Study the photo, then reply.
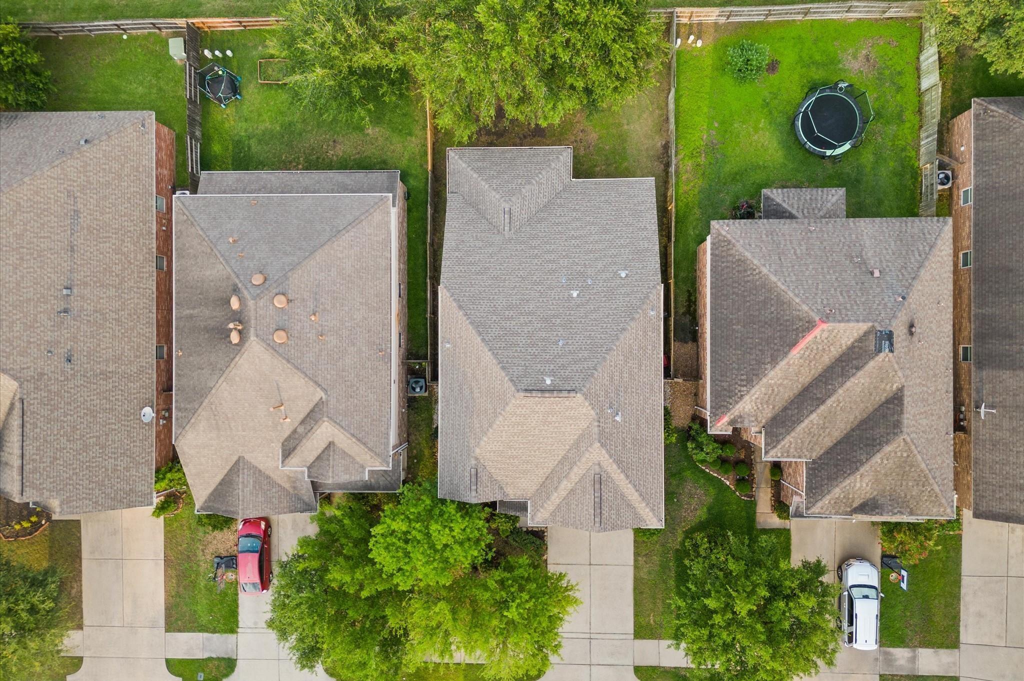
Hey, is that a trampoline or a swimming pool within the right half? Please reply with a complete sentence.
There is a trampoline within the right half.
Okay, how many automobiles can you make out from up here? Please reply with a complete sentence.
In total, there are 2 automobiles in the scene.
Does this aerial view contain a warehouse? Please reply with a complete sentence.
No, there appears to be no warehouse in this shot.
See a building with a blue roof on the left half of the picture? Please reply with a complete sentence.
No, looking on the left half of the picture, there is no building with a blue roof.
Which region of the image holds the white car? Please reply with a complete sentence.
The white car is located in the bottom right region of the scene.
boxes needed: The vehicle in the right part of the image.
[836,557,882,651]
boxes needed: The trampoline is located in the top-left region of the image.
[197,62,241,107]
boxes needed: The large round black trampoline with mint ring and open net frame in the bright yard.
[788,77,877,166]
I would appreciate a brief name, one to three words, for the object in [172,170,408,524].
house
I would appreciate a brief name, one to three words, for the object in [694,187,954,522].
house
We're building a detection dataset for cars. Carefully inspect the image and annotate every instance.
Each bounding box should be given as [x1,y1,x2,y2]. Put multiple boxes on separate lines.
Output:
[234,520,273,593]
[836,557,882,651]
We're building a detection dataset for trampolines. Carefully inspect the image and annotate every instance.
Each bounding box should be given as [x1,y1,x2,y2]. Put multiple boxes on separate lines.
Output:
[788,77,877,166]
[197,62,241,107]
